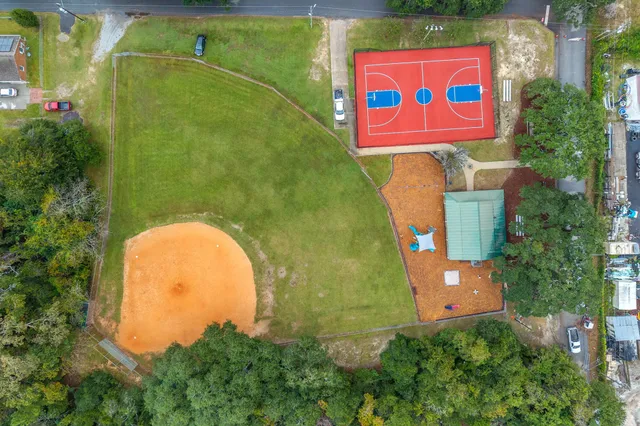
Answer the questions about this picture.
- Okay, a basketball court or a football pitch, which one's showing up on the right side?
basketball court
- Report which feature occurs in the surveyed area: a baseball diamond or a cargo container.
baseball diamond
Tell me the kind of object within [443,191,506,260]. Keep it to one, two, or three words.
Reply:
building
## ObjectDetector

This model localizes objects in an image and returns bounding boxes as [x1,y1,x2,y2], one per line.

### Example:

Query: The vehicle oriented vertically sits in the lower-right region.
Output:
[564,326,581,355]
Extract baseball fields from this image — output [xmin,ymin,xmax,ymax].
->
[92,57,419,369]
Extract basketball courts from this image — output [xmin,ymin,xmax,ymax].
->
[355,46,496,147]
